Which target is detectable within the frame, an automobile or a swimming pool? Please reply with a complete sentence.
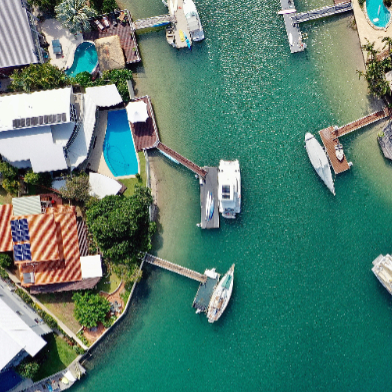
This aerial view contains a swimming pool.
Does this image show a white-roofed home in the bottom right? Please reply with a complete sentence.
No, looking in the bottom right, there is no white-roofed home.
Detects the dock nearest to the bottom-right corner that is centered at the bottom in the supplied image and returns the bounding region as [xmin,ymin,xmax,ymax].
[192,273,221,313]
